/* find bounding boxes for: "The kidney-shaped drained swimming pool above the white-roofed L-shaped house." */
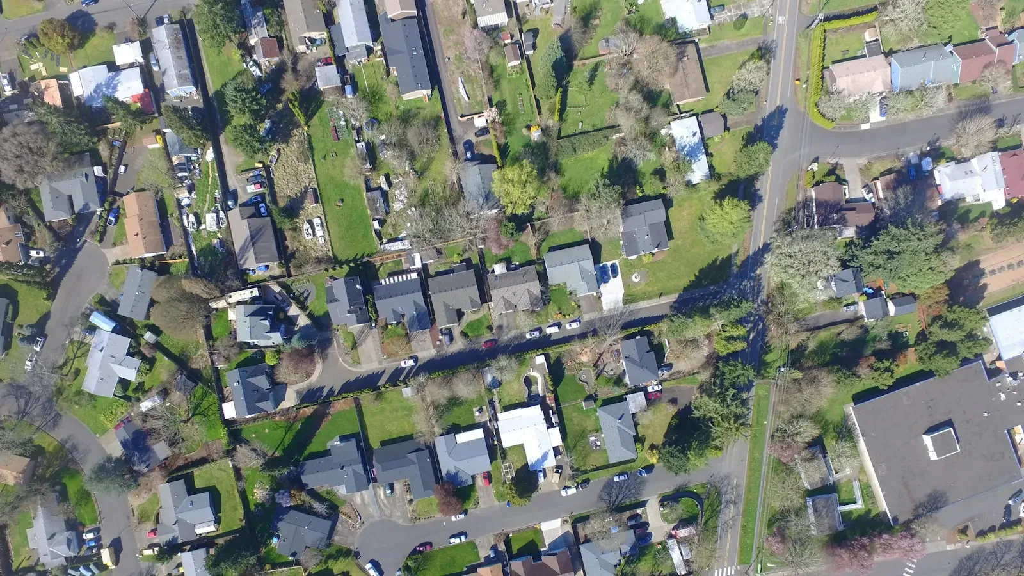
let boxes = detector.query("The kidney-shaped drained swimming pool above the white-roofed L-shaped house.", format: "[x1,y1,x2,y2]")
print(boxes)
[523,371,542,405]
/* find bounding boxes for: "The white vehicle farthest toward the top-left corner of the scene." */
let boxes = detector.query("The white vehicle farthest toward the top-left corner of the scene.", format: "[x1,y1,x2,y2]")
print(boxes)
[1,74,13,93]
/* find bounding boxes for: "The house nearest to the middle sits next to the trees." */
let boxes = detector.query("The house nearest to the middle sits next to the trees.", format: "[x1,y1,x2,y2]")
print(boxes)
[487,263,545,315]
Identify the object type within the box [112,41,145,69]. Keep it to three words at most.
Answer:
building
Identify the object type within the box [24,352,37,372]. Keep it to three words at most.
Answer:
vehicle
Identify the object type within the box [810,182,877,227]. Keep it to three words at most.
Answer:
house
